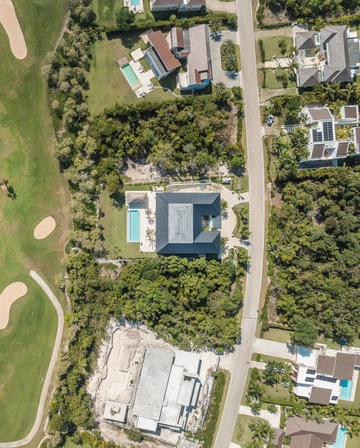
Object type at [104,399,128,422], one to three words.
shed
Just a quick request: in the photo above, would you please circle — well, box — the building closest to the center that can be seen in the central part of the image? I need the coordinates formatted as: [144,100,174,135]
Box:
[156,193,221,255]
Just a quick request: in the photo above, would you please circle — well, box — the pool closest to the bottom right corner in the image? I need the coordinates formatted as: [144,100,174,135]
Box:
[334,426,347,448]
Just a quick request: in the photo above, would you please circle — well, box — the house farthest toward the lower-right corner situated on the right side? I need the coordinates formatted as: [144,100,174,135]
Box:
[283,415,339,448]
